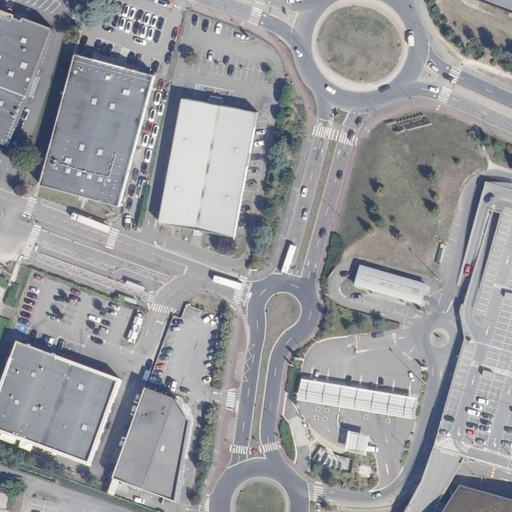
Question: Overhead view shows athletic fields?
No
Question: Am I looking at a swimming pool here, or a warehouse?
warehouse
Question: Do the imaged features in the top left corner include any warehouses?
Yes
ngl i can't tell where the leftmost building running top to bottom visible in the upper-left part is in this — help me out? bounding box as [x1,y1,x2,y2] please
[0,10,56,148]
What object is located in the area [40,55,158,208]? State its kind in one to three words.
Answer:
warehouse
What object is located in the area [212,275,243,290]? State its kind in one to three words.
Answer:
vehicle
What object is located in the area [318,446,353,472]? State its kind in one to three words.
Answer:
building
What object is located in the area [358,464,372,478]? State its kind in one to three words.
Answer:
gazebo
